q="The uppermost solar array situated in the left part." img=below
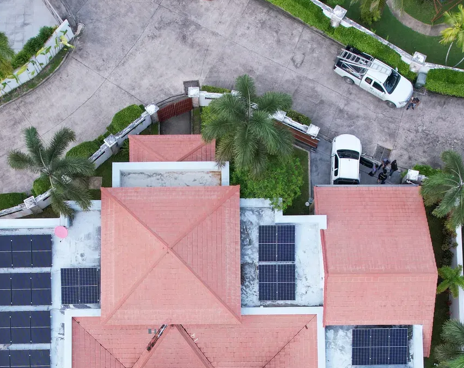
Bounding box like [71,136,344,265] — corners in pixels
[0,234,53,267]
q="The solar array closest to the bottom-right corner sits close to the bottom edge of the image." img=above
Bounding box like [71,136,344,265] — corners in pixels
[352,328,409,365]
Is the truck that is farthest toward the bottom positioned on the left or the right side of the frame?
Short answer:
right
